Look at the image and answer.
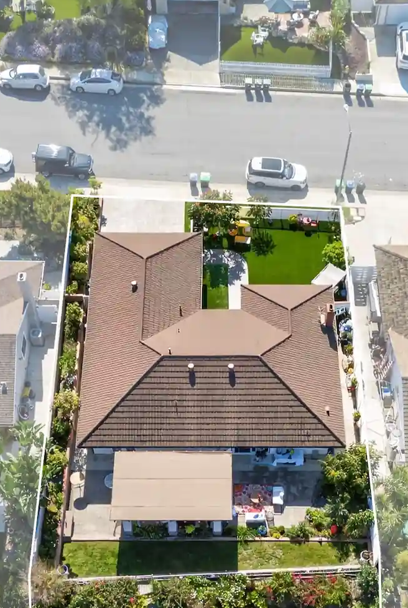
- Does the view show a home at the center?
Yes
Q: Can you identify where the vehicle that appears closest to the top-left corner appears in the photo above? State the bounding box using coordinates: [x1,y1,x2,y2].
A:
[0,64,49,92]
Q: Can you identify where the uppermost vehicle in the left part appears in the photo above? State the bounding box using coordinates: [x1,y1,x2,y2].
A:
[145,12,170,49]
